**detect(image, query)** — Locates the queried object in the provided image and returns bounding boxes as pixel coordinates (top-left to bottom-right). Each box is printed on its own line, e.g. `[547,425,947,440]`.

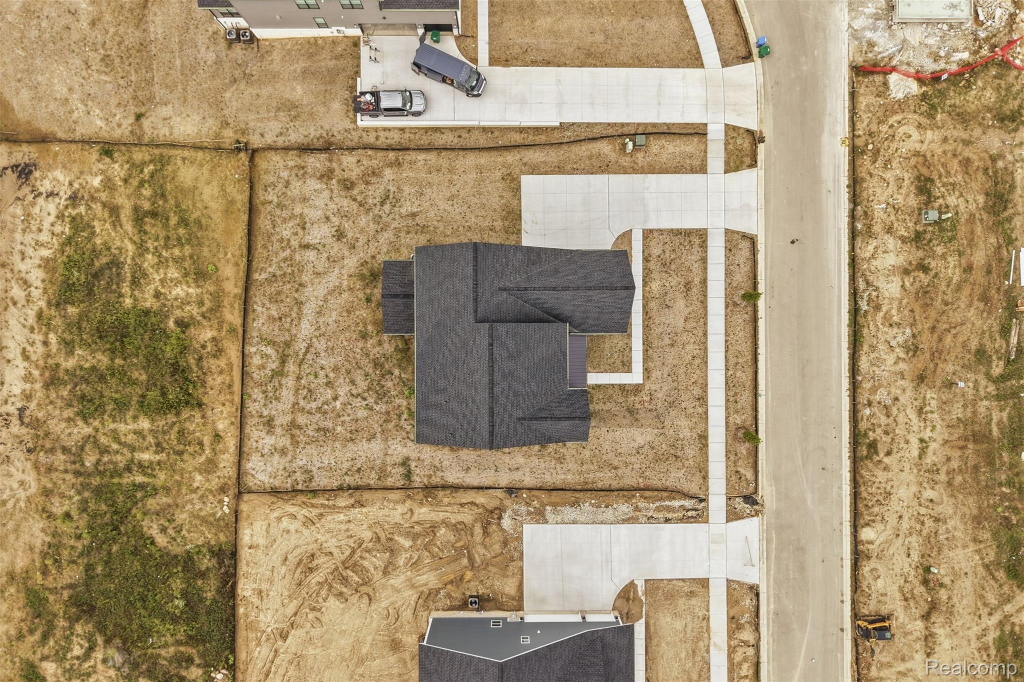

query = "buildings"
[417,607,634,682]
[380,242,635,450]
[195,0,473,56]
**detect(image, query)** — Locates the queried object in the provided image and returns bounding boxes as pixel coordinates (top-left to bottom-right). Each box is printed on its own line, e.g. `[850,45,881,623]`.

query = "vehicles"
[860,617,897,645]
[354,86,427,116]
[406,34,487,97]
